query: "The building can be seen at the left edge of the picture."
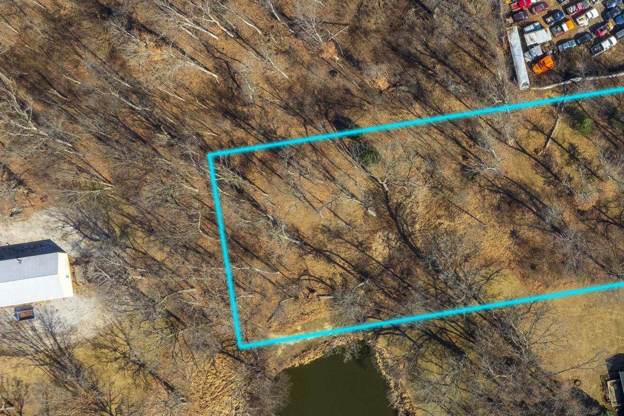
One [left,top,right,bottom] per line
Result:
[0,252,71,307]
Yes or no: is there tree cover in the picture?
Yes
